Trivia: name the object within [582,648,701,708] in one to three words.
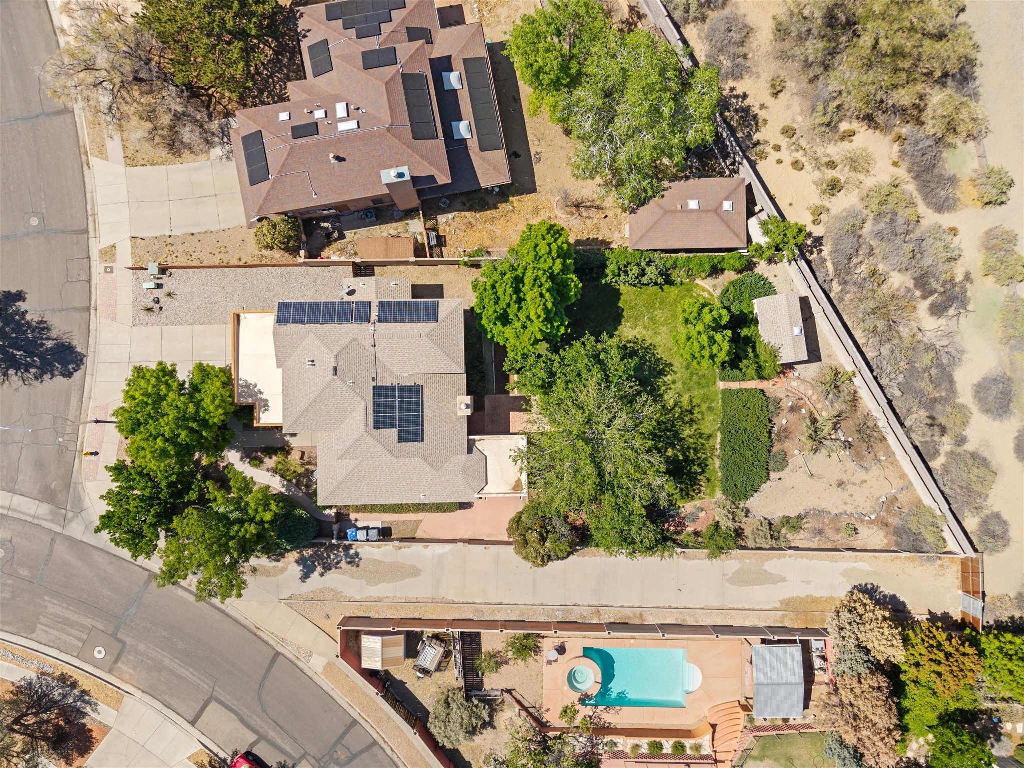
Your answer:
swimming pool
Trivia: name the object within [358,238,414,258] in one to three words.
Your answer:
shed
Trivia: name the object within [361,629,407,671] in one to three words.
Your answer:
shed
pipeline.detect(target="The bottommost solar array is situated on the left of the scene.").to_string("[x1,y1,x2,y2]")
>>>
[373,386,421,443]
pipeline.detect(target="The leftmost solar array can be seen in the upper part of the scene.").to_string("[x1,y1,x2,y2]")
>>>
[242,131,270,185]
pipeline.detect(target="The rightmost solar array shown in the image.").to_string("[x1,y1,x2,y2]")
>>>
[463,58,502,151]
